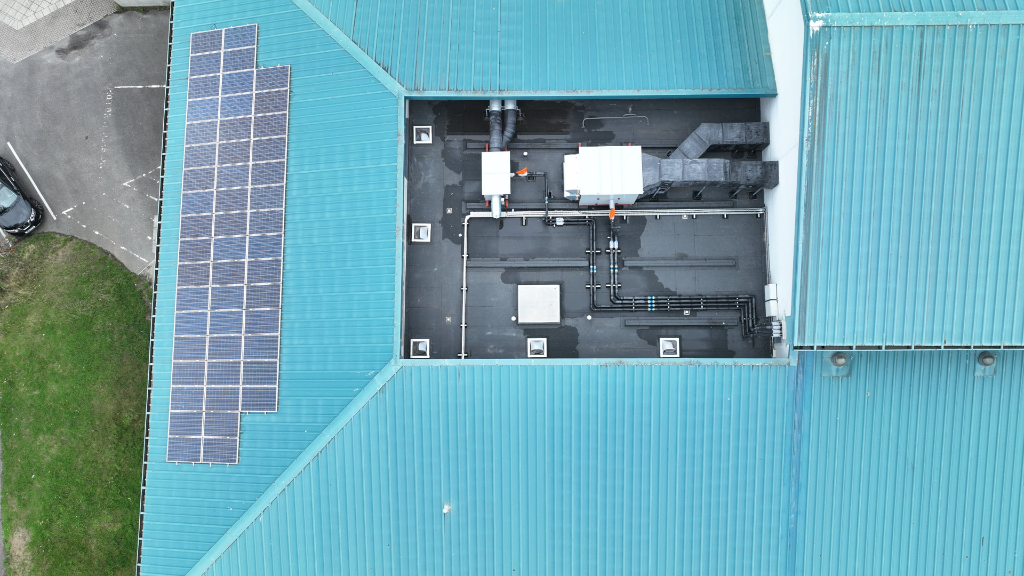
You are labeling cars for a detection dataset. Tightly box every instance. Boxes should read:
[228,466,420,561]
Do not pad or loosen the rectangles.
[0,155,45,237]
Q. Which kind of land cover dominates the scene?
buildings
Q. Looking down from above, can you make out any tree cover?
No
